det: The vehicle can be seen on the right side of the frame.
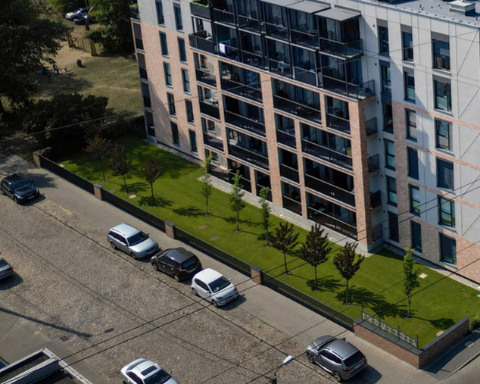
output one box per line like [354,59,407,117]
[297,332,363,382]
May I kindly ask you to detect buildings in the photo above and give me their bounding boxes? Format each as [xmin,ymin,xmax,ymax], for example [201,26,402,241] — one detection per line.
[137,0,480,279]
[0,349,91,384]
